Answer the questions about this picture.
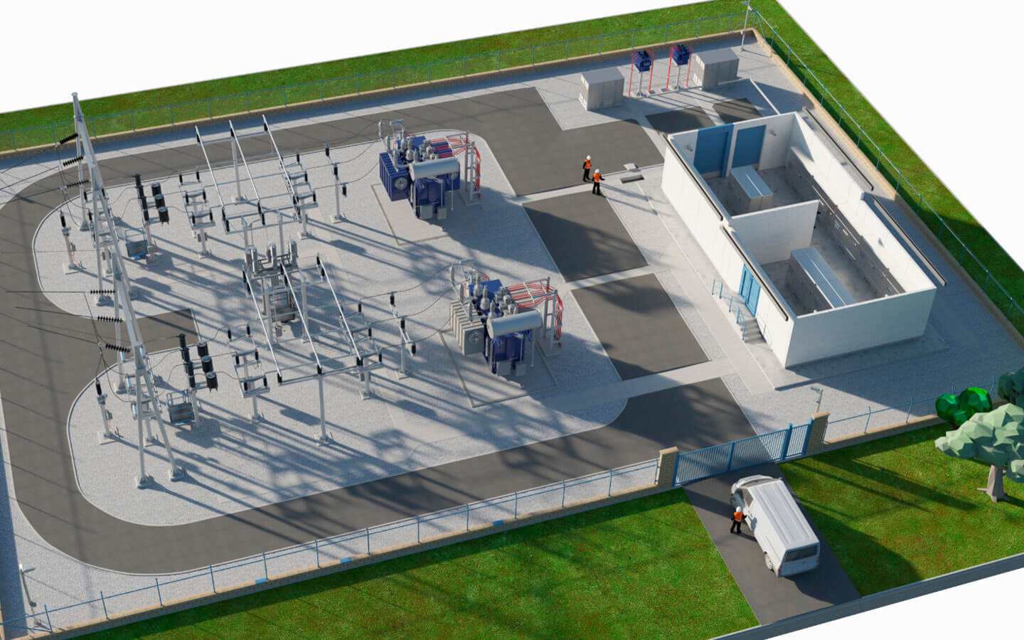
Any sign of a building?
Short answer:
Yes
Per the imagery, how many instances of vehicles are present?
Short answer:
1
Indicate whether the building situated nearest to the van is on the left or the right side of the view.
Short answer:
right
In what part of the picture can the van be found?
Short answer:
bottom right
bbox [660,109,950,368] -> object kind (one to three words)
building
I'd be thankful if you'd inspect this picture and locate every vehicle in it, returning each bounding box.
[732,476,818,575]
